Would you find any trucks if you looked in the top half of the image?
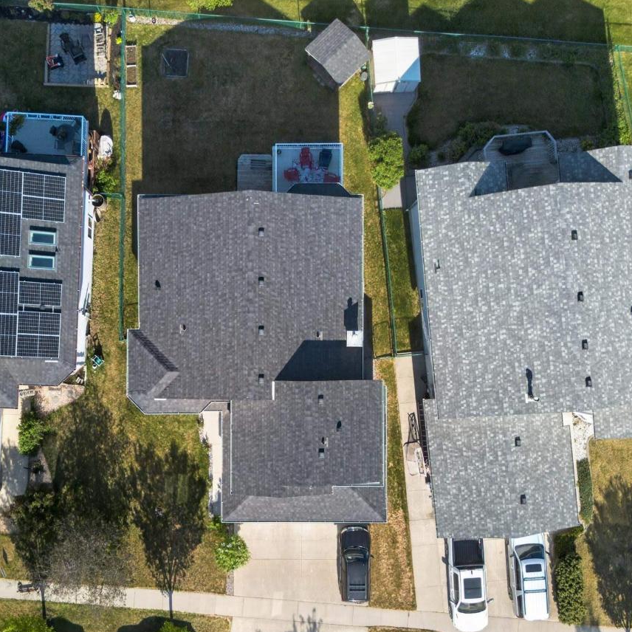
No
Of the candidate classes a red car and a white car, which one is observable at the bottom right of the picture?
white car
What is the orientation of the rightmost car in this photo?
up and down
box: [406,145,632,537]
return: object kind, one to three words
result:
house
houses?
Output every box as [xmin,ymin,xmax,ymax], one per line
[406,145,632,537]
[0,152,98,432]
[126,181,388,522]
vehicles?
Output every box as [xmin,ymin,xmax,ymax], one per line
[450,537,490,630]
[510,533,551,622]
[337,525,373,602]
